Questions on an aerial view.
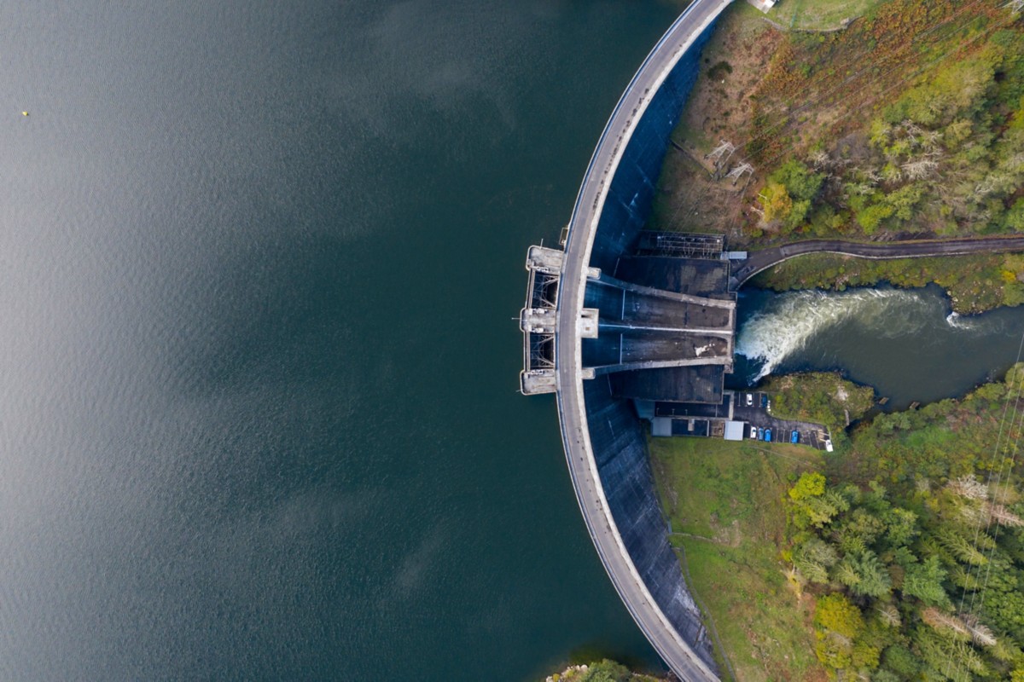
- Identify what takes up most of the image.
water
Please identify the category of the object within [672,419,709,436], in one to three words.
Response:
building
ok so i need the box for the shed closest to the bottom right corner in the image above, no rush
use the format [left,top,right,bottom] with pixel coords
[722,421,749,440]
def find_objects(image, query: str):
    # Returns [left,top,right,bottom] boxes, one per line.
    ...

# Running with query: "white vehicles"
[825,439,834,453]
[747,393,752,405]
[750,426,756,439]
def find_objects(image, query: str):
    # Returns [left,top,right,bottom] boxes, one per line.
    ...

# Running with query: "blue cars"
[761,394,767,406]
[765,429,771,441]
[792,431,797,443]
[758,428,764,440]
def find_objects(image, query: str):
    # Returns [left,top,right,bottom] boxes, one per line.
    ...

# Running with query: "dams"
[512,0,739,682]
